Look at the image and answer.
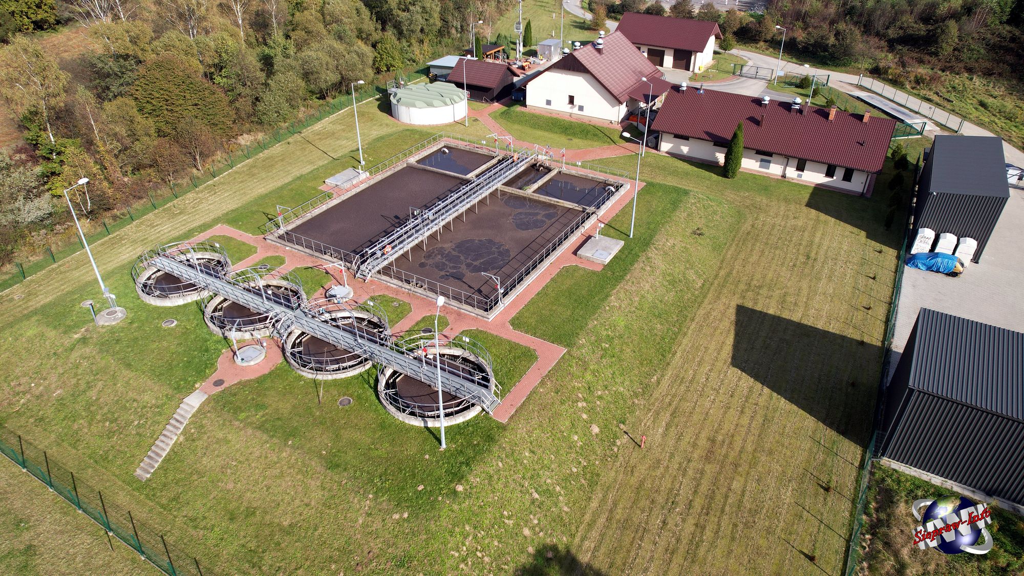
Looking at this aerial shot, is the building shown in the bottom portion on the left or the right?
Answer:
right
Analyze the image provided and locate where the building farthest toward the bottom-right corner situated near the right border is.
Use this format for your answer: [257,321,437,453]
[877,304,1024,515]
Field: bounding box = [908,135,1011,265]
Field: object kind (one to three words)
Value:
building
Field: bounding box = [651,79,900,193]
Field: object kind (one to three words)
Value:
house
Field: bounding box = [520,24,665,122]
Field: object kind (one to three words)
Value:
house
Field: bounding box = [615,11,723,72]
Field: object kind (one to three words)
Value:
building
